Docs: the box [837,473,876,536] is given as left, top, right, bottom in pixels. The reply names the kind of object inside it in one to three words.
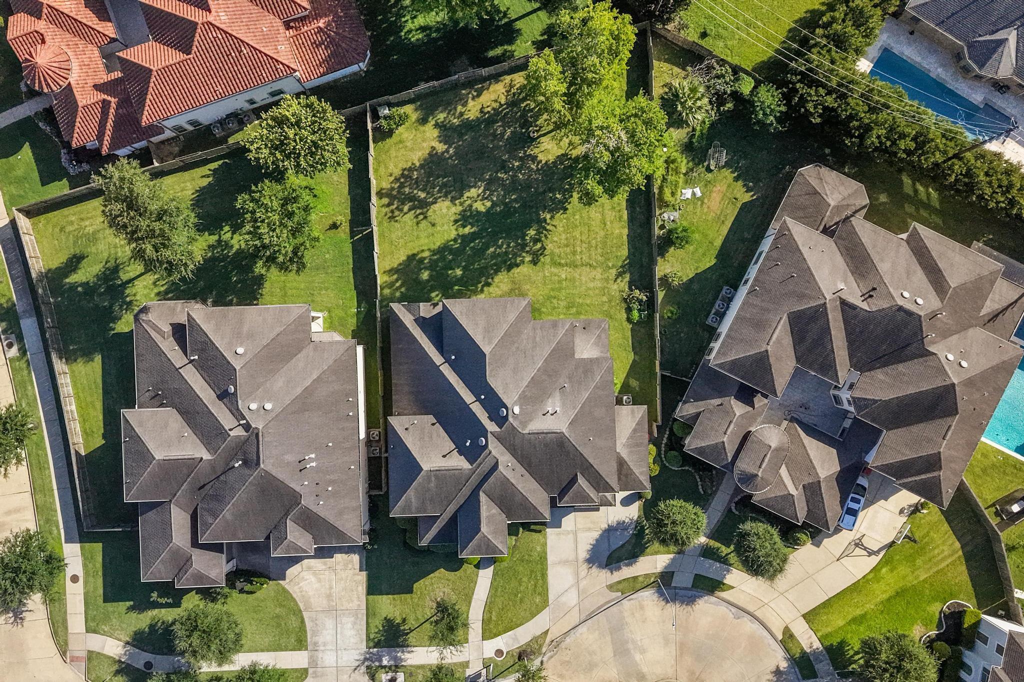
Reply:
car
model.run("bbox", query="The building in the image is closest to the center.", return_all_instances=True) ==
[387,297,651,557]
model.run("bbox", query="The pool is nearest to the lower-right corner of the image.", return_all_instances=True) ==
[984,327,1024,456]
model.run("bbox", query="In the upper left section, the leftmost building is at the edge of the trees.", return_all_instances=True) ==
[6,0,376,159]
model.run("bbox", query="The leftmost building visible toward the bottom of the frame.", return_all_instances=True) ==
[122,300,376,588]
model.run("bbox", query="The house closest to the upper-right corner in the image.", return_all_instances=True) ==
[891,0,1024,104]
